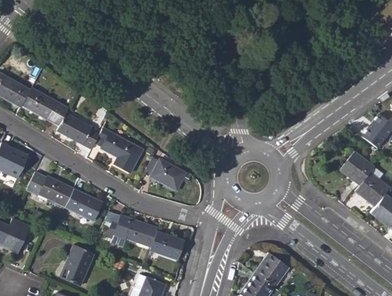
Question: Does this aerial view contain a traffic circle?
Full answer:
Yes, a traffic circle can be made out from above.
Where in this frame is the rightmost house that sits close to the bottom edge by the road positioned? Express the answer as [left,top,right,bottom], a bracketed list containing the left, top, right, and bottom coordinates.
[236,252,290,296]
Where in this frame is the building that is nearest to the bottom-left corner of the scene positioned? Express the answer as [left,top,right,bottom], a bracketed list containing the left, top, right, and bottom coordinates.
[0,218,29,251]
